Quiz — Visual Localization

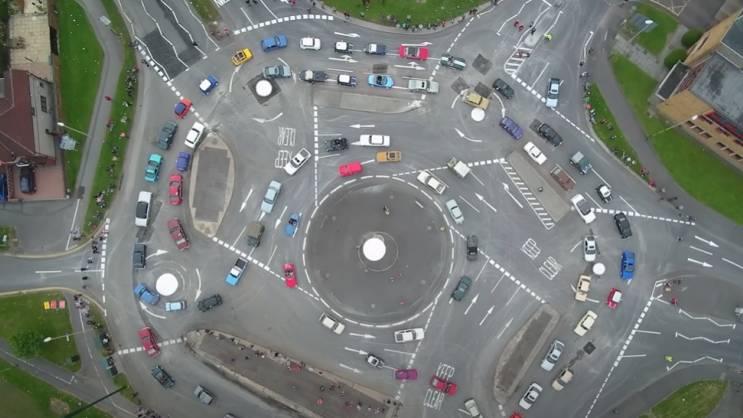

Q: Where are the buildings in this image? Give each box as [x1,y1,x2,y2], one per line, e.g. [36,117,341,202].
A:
[647,0,743,166]
[45,24,62,57]
[0,63,55,168]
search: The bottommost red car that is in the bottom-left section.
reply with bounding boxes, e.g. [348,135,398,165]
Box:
[139,326,160,358]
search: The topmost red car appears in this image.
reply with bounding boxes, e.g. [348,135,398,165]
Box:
[399,45,429,60]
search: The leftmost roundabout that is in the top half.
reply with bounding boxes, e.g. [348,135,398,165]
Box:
[243,69,282,105]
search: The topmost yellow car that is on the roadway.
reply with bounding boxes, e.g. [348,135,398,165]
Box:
[229,48,254,67]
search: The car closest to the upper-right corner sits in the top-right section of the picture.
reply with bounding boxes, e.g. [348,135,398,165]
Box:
[545,78,560,109]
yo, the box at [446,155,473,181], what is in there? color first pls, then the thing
white car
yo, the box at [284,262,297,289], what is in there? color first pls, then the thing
red vehicle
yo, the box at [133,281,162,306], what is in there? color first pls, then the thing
blue car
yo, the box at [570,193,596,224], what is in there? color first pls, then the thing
white car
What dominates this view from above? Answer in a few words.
paved ground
